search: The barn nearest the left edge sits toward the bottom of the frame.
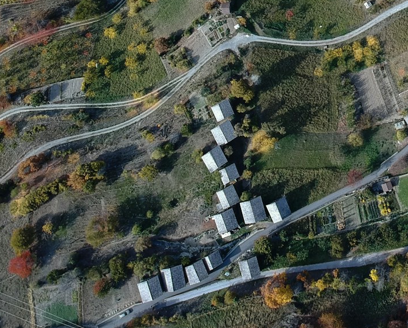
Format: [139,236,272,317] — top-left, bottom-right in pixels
[137,273,167,302]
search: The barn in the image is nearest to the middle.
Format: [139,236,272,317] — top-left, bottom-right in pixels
[201,145,229,173]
